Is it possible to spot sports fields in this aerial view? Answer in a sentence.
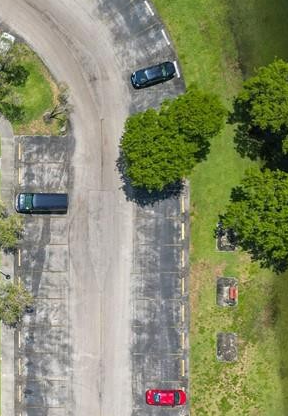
No, there appears to be no sports field in this shot.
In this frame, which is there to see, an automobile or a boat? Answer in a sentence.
Looking from above, you can make out an automobile.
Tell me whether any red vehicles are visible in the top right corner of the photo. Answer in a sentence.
No, no red vehicle appears in the top right corner of the photo.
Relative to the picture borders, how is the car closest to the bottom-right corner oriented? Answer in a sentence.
The car closest to the bottom-right corner is laid out horizontally.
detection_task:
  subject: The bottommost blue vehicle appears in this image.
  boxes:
[15,191,70,214]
